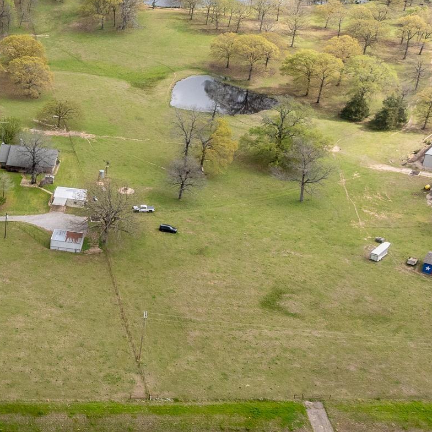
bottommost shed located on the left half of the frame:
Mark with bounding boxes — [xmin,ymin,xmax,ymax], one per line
[51,226,85,251]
